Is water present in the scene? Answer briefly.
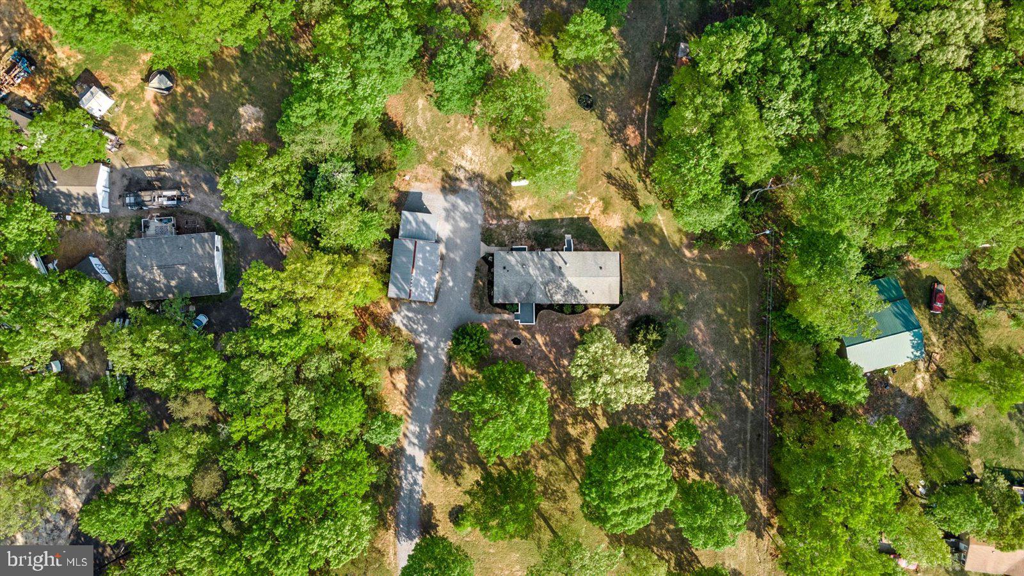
No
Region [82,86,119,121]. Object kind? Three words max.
vehicle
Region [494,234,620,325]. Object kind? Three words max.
house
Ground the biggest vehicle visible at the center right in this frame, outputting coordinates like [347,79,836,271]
[928,282,945,314]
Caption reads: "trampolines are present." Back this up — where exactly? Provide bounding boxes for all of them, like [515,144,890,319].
[577,94,593,110]
[149,70,176,95]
